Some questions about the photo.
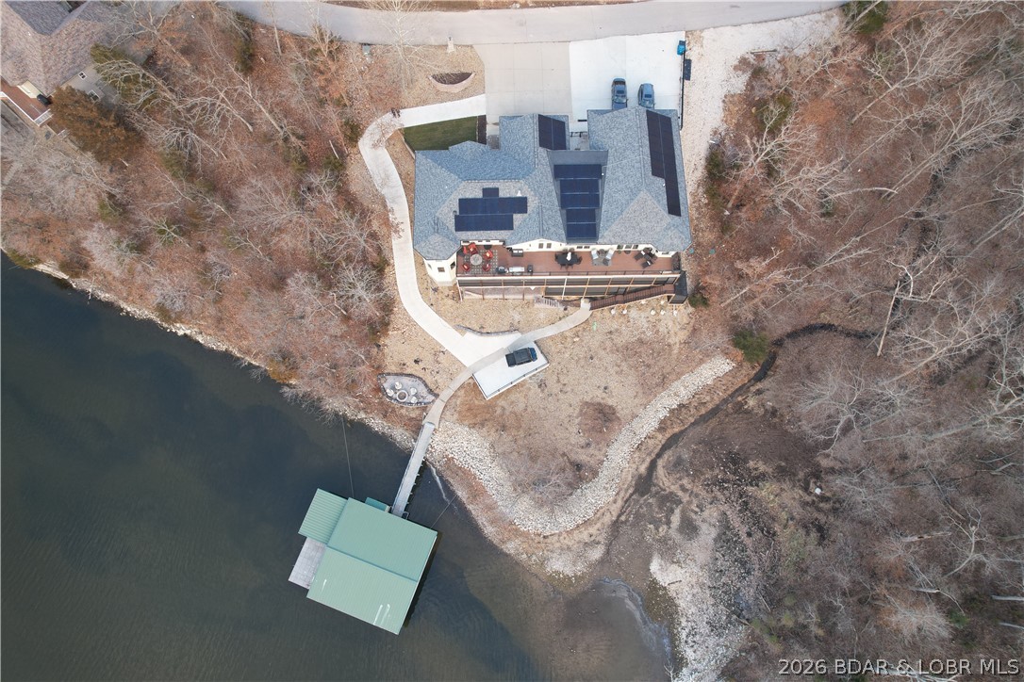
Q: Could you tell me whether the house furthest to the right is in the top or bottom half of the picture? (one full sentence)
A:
The house furthest to the right is in the top half of the image.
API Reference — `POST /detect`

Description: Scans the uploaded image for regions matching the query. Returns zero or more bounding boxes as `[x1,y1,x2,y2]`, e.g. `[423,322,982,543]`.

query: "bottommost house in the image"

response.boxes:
[413,106,691,314]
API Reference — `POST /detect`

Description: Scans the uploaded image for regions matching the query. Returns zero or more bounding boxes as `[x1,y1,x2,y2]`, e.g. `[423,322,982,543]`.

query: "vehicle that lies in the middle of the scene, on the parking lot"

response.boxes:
[505,347,538,367]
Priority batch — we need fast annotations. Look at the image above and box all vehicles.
[638,80,659,110]
[611,76,630,110]
[505,347,538,367]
